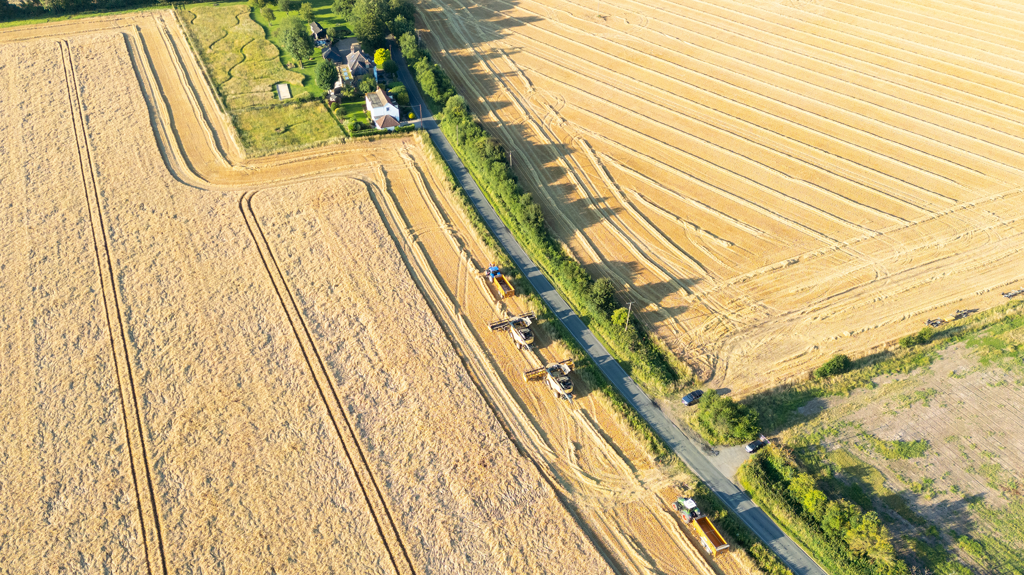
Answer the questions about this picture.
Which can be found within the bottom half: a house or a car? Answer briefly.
car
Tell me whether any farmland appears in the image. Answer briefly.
Yes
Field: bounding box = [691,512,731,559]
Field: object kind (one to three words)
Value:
trailer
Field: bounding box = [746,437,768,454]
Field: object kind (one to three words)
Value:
car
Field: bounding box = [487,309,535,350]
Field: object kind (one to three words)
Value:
work vehicle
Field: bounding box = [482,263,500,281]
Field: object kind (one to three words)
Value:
work vehicle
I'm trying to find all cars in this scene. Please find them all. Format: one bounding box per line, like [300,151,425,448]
[746,437,768,454]
[682,389,704,407]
